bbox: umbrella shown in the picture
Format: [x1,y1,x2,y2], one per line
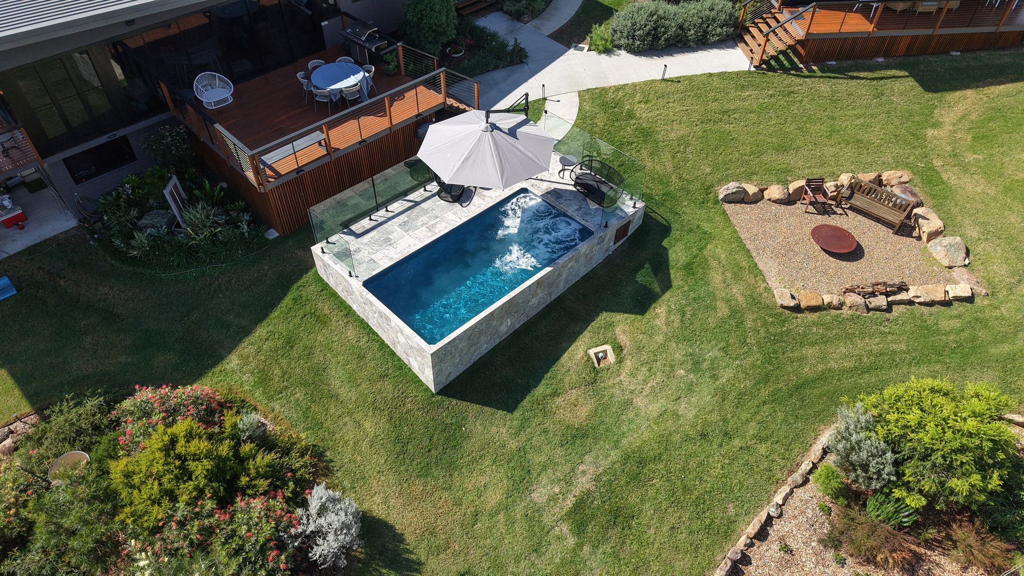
[416,91,557,193]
